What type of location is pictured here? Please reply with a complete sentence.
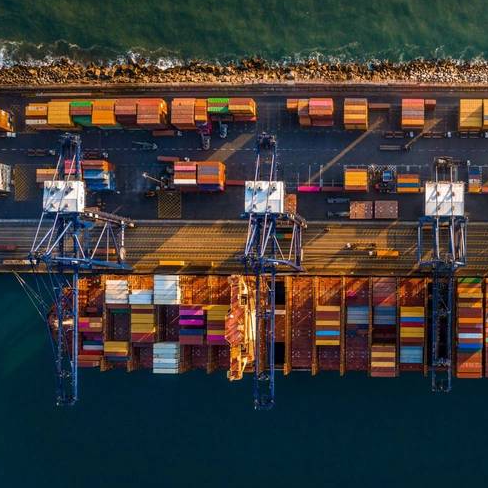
What you see here is a port.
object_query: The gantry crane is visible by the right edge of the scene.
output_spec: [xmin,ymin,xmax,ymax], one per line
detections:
[414,157,471,396]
